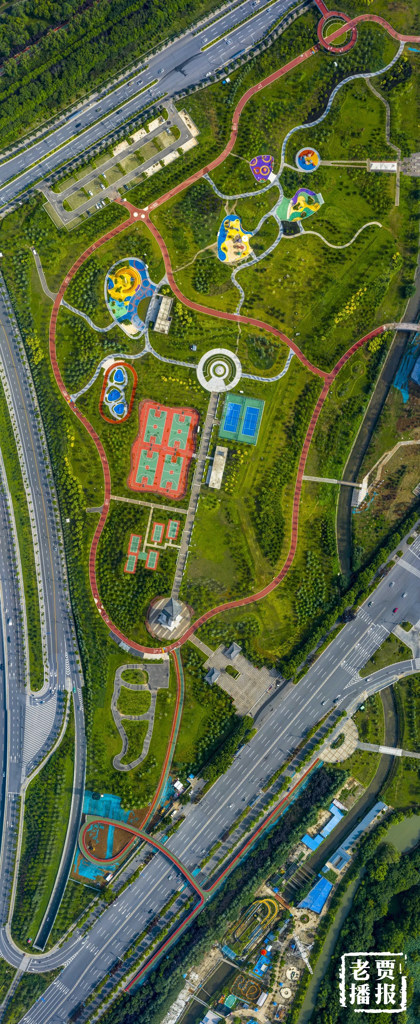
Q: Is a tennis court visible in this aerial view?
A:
Yes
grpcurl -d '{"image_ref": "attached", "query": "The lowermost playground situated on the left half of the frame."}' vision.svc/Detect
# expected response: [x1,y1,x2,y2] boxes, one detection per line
[106,259,156,334]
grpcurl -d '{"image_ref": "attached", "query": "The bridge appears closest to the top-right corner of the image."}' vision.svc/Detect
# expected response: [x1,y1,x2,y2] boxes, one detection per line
[317,0,357,50]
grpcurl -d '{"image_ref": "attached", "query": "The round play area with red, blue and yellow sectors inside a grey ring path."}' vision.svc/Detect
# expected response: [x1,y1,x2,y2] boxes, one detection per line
[296,147,321,172]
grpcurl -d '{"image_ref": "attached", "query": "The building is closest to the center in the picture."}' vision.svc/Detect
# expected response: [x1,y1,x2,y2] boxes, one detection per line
[209,445,228,489]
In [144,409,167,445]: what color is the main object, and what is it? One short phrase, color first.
green basketball court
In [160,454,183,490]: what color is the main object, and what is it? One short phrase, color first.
green basketball court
